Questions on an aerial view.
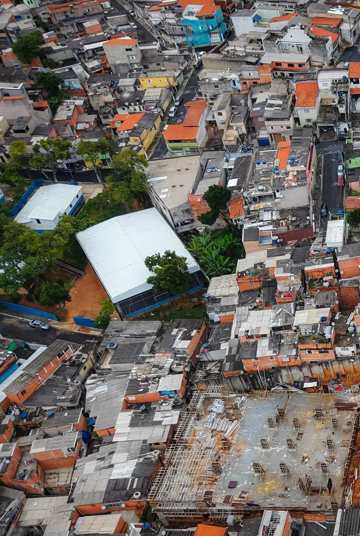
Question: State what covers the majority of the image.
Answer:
buildings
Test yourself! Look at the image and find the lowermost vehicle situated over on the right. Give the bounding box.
[317,203,332,217]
